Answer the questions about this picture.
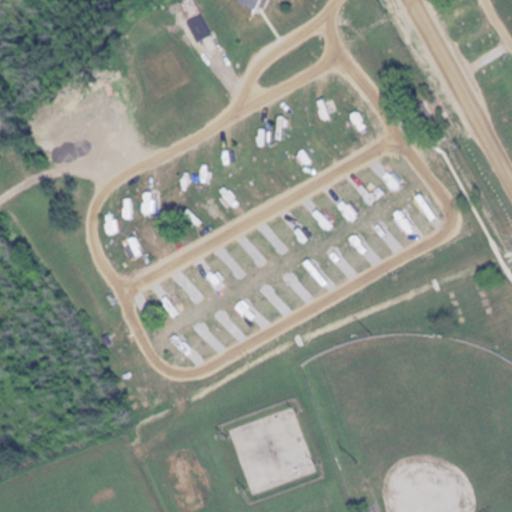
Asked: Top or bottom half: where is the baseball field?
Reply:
bottom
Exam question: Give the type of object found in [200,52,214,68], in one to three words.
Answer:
vehicle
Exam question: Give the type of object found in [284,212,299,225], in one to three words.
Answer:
vehicle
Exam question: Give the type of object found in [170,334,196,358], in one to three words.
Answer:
camper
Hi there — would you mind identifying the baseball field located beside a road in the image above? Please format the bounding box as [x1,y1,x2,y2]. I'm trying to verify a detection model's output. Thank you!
[301,334,512,512]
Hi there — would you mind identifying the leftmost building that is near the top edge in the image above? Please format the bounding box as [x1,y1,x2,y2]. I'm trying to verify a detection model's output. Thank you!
[186,14,212,41]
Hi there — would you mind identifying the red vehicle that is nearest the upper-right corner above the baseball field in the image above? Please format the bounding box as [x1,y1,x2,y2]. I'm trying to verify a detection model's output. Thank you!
[350,172,365,188]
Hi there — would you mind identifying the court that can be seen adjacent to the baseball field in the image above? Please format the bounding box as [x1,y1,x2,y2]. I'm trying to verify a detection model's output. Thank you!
[218,399,324,505]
